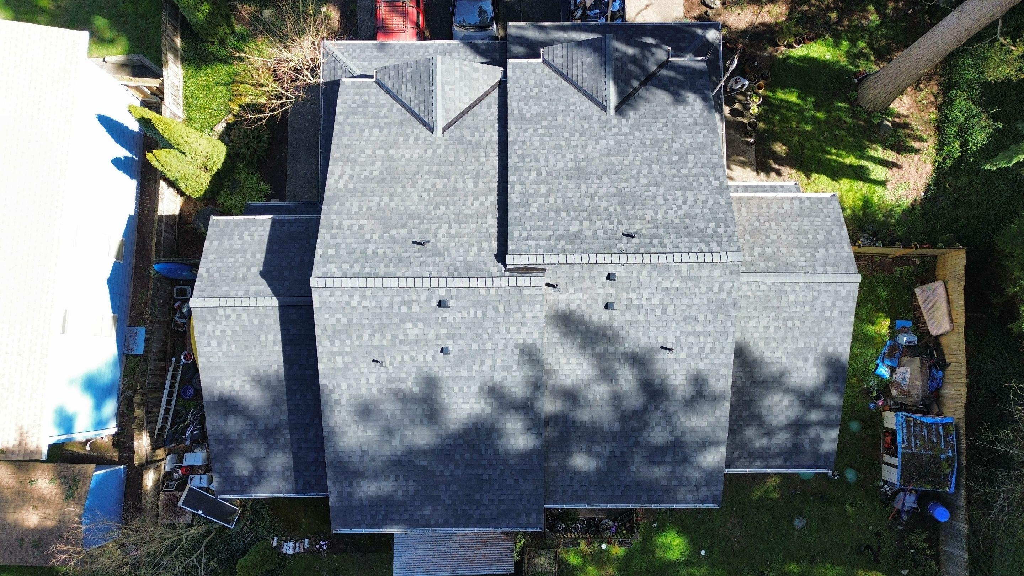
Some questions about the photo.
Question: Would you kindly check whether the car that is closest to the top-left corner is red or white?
red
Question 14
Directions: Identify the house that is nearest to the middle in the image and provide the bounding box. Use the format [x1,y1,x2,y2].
[189,21,862,534]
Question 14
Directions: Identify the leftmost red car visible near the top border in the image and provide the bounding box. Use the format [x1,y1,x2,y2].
[377,0,424,39]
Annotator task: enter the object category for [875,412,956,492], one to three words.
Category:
shed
